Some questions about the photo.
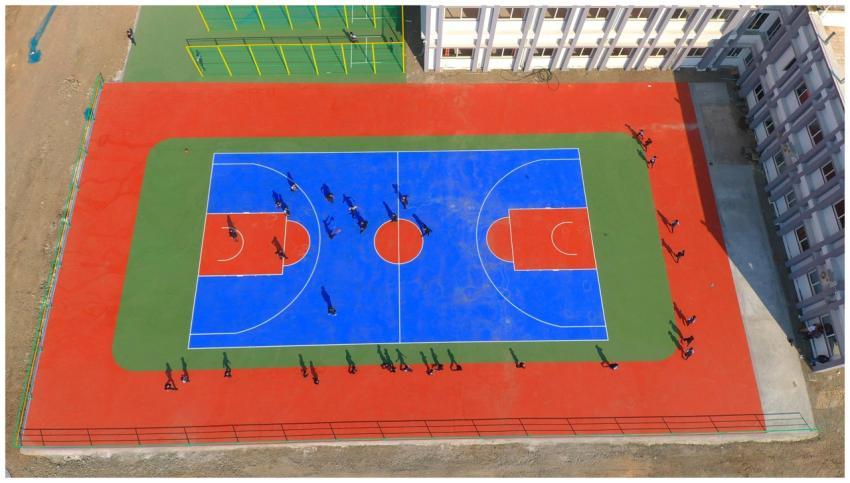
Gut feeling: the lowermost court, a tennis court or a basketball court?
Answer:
basketball court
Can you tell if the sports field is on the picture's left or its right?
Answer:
left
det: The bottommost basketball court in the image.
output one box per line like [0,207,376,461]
[22,83,766,447]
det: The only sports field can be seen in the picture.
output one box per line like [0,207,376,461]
[123,0,409,84]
